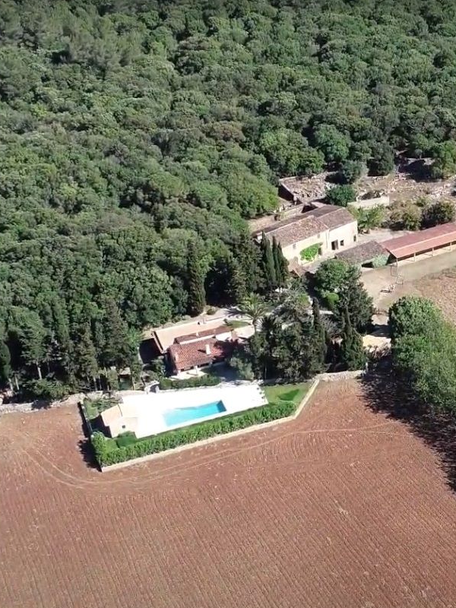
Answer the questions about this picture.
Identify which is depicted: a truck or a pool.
pool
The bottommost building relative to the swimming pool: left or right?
left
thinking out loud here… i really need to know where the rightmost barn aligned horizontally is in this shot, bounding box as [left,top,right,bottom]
[376,223,456,266]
